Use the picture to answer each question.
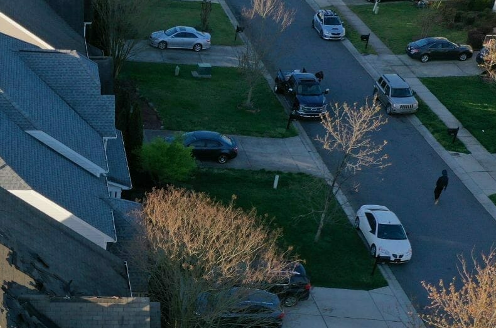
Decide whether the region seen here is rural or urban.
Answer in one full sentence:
The land in this view is best described as urban.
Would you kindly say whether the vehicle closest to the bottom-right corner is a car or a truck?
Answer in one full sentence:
The vehicle closest to the bottom-right corner appears to be a car.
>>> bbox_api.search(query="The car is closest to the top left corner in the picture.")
[147,24,211,50]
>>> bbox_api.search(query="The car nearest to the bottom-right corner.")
[358,203,415,262]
